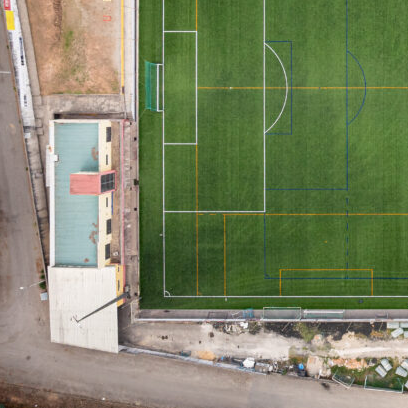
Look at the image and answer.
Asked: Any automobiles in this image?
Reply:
No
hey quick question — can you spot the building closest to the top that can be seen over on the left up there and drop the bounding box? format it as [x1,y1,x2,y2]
[47,119,127,268]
